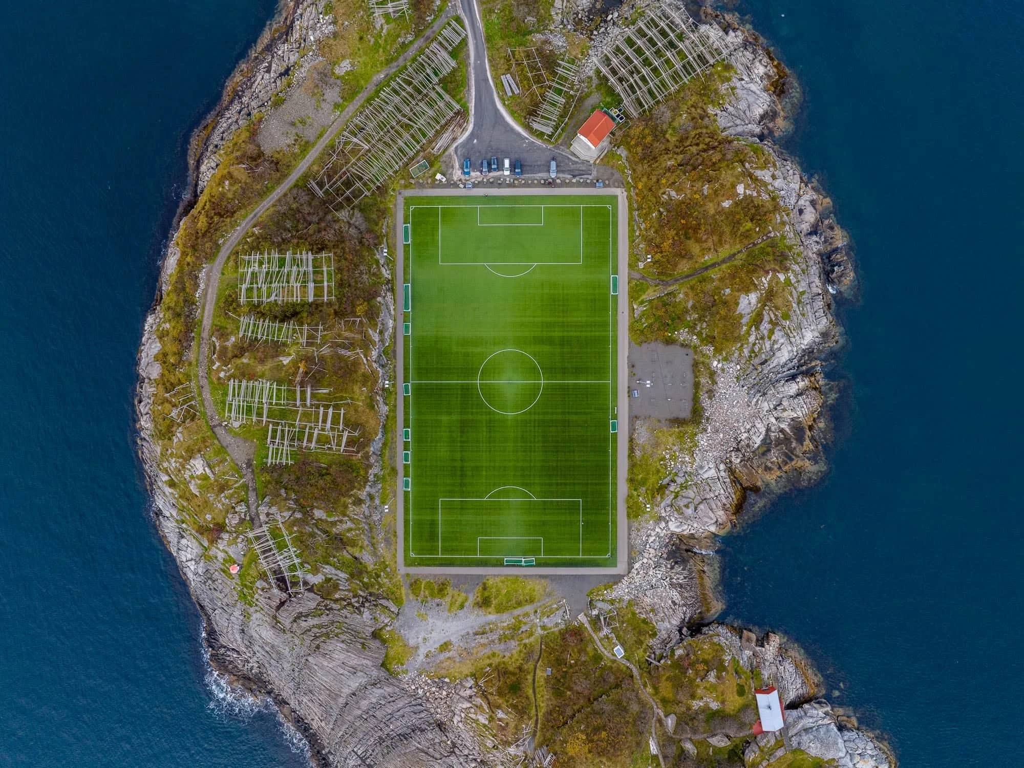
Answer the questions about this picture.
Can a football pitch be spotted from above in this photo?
Yes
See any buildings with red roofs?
Yes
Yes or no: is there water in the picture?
Yes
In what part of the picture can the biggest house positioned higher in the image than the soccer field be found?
top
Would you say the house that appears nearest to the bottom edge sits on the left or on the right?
right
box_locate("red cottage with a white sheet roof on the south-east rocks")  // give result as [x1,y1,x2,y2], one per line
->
[752,685,783,730]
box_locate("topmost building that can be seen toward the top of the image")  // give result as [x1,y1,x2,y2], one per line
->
[576,110,616,151]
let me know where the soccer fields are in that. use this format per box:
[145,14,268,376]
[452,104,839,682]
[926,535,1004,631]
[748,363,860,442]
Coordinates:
[404,196,618,567]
